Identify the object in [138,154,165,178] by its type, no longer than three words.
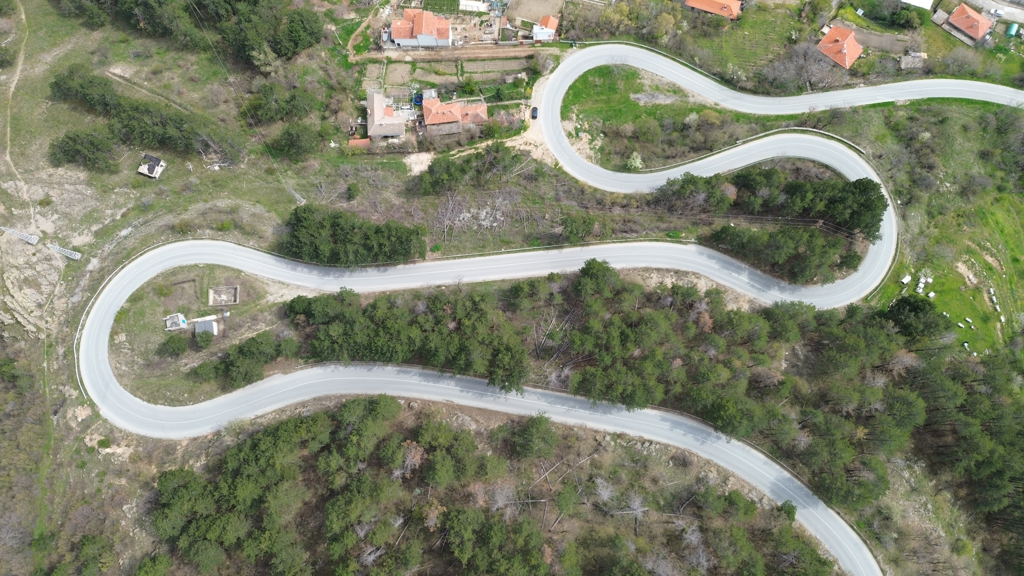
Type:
shed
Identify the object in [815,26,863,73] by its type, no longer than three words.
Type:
house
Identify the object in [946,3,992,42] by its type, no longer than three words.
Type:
house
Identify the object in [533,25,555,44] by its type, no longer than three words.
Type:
shed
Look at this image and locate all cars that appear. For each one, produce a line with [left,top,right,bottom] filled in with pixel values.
[389,32,394,42]
[990,10,1005,17]
[532,107,537,118]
